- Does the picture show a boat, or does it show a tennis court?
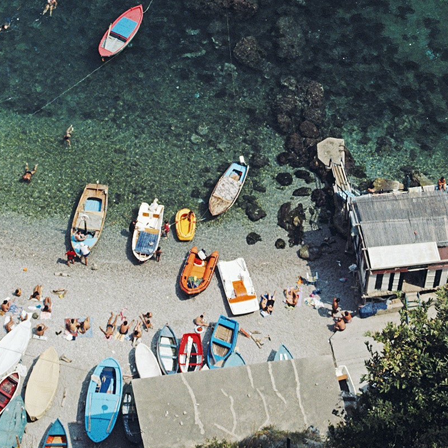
boat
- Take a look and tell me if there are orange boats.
Yes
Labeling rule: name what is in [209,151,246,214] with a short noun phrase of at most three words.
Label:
boat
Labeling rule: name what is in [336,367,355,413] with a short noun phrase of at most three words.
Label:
boat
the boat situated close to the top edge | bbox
[100,7,143,67]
